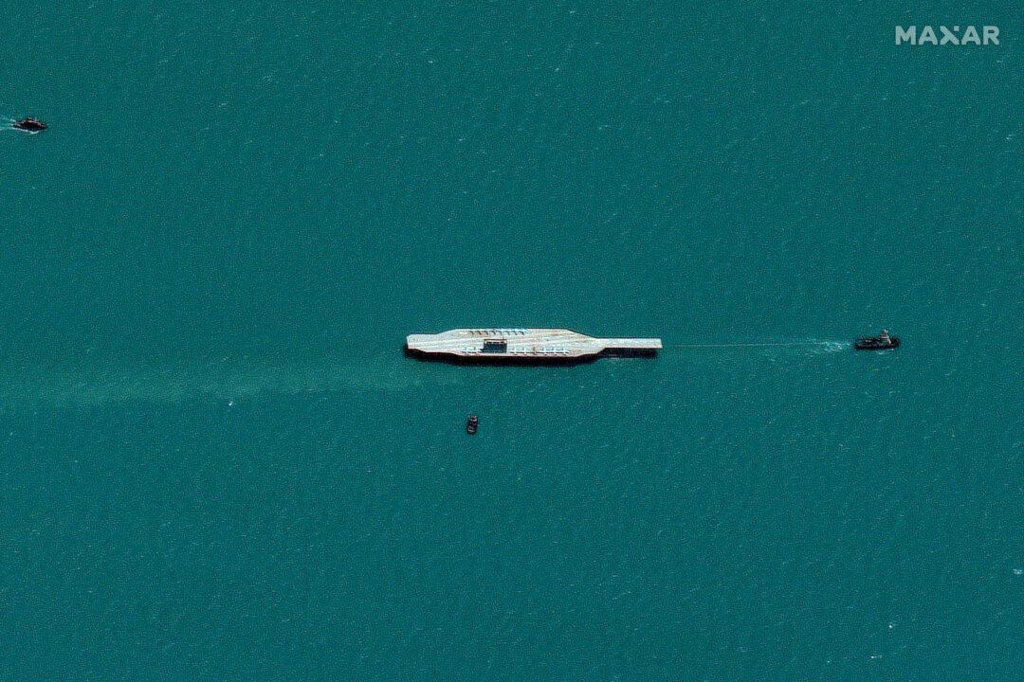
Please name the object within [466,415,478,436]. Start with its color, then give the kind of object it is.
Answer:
black boat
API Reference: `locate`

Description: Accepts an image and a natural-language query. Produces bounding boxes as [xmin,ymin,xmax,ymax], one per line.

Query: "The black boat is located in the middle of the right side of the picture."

[856,331,900,350]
